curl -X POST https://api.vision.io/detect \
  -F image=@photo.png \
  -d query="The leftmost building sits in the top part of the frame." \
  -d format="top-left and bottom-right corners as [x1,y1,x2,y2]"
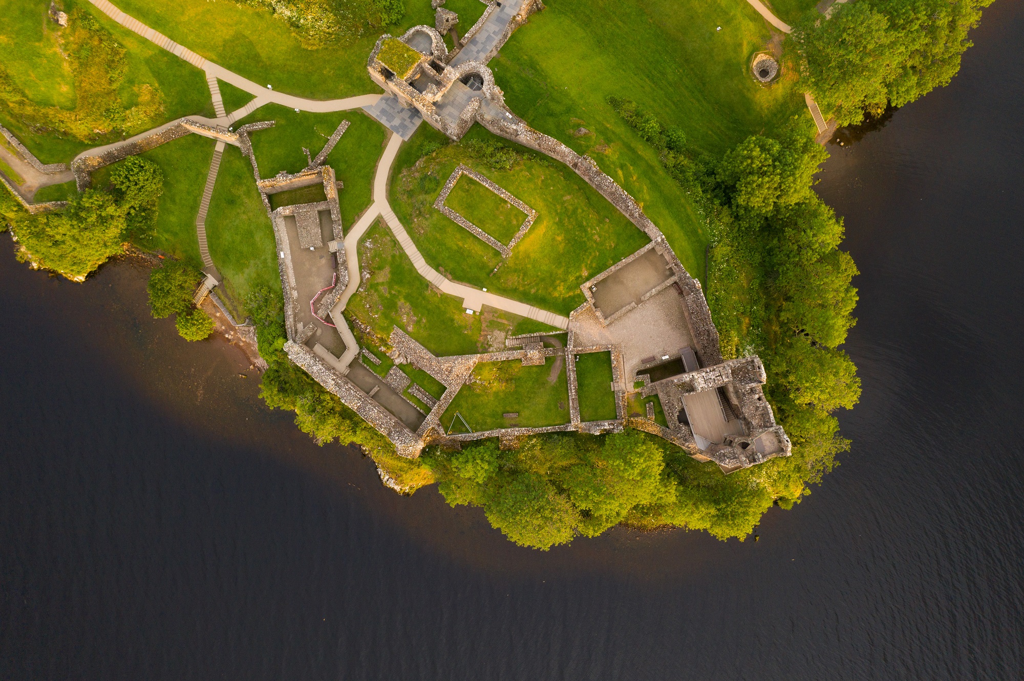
[256,165,351,344]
